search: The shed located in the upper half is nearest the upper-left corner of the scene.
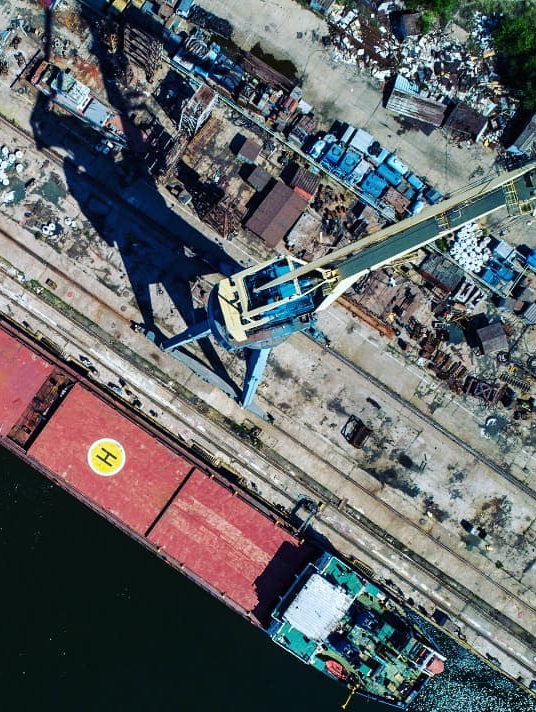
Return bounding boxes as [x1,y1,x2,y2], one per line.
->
[235,137,263,168]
